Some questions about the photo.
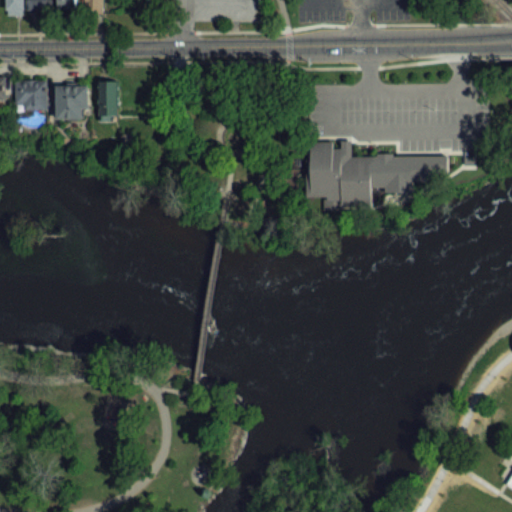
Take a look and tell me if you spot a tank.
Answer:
No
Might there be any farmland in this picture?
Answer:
No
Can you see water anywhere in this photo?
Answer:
Yes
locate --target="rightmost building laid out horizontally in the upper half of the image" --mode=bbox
[310,140,447,208]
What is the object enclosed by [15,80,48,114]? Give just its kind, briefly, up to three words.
house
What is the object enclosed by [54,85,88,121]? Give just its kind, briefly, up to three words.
house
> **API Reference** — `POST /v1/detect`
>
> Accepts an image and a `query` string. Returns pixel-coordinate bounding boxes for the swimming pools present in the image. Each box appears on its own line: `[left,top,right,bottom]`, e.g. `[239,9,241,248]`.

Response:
[18,114,46,128]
